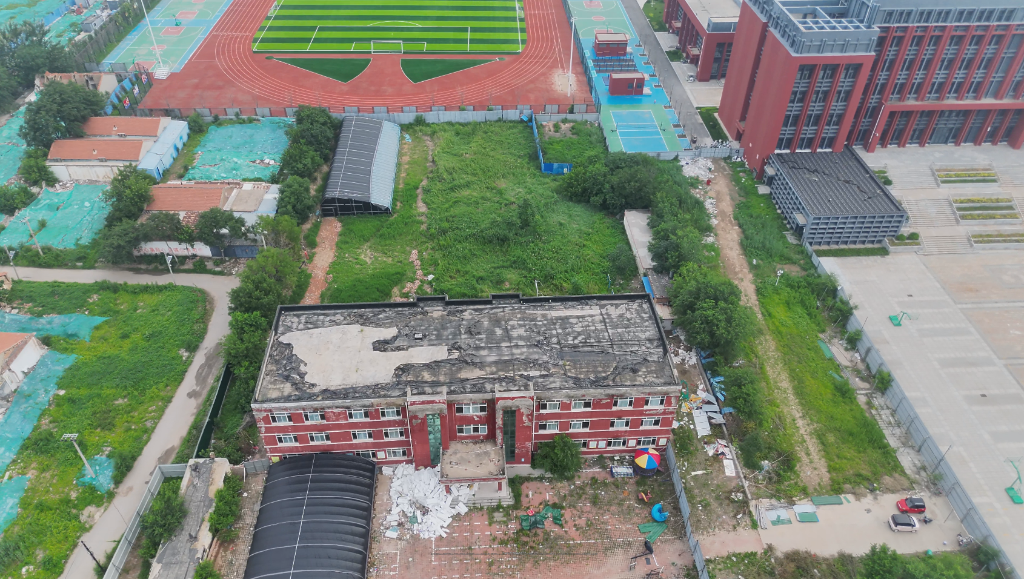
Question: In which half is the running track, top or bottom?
top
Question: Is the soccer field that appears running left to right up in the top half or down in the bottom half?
top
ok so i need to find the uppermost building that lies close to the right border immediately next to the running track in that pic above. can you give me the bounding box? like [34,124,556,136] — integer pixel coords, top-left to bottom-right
[719,0,1024,179]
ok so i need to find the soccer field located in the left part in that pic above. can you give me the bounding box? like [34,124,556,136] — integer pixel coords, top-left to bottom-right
[245,0,527,55]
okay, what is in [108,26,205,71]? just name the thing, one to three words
basketball court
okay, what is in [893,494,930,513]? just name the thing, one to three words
car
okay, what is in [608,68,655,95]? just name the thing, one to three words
shed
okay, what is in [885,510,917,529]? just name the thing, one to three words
car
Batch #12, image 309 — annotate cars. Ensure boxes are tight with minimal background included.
[885,510,917,529]
[893,494,930,513]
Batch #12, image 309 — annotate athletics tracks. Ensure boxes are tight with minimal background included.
[121,0,595,116]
